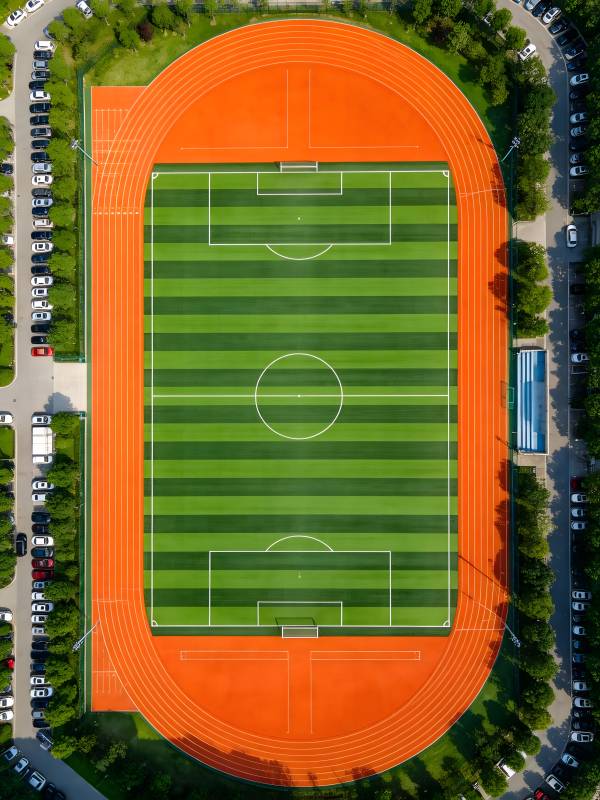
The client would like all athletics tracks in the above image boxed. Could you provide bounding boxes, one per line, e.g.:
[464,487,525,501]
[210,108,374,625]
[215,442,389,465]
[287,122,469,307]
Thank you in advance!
[86,17,517,792]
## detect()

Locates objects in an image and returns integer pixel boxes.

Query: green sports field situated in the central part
[144,163,459,636]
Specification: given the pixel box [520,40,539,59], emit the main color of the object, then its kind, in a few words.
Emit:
white car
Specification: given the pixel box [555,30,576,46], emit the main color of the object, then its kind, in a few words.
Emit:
black car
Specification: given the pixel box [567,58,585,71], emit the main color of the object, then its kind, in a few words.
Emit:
black vehicle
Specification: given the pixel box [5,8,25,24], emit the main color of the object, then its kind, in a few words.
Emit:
white car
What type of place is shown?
sports ground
